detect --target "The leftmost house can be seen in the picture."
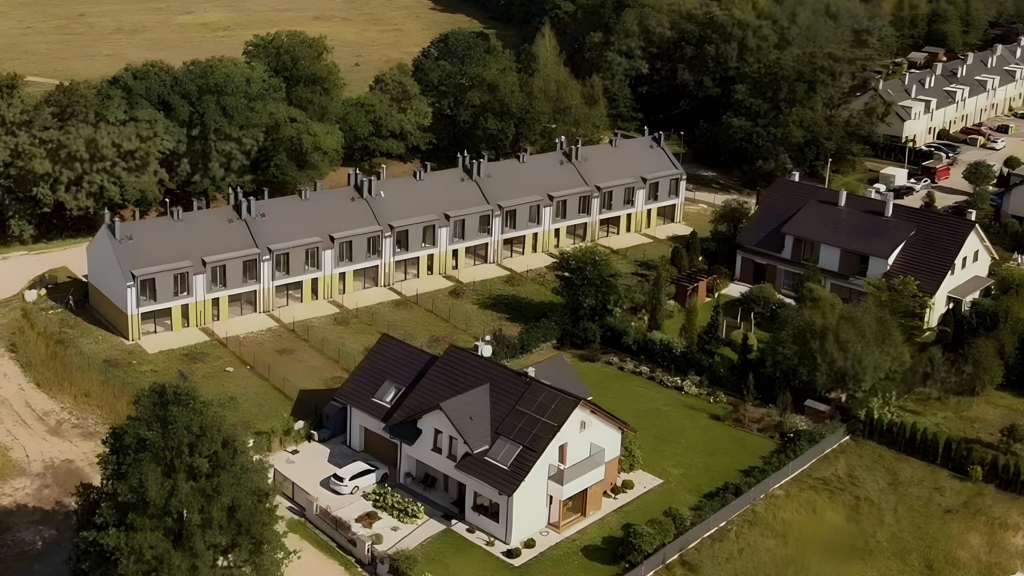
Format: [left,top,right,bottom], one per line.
[85,187,269,342]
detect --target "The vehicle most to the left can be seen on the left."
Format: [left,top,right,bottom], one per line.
[331,455,393,491]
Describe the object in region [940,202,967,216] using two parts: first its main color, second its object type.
black car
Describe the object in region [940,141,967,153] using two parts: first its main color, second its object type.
black vehicle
